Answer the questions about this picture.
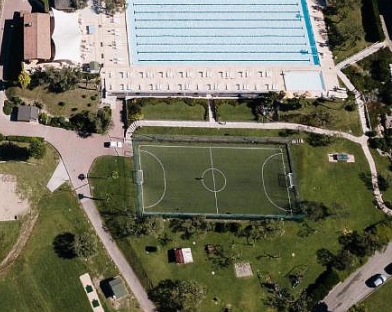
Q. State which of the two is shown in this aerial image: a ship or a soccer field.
soccer field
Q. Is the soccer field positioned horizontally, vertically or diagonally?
horizontally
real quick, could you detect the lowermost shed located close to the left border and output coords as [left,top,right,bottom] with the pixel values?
[14,105,40,123]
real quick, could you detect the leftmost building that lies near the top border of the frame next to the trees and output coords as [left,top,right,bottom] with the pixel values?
[19,11,56,73]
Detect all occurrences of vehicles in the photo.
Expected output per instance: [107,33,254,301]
[108,142,119,149]
[370,272,390,289]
